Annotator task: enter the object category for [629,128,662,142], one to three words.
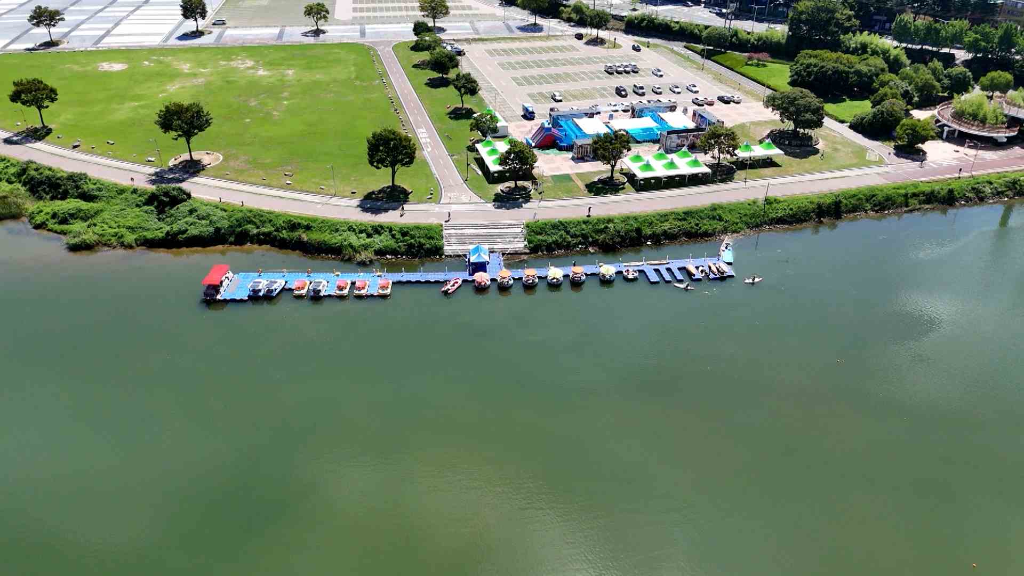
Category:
swimming pool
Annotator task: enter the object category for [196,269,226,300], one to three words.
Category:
boat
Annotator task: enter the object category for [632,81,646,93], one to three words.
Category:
vehicle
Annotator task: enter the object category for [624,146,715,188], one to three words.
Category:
tent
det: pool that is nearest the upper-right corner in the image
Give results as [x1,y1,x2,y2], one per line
[648,120,693,133]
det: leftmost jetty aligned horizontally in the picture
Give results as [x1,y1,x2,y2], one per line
[221,269,383,301]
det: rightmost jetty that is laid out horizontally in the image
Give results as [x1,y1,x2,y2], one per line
[502,253,733,284]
